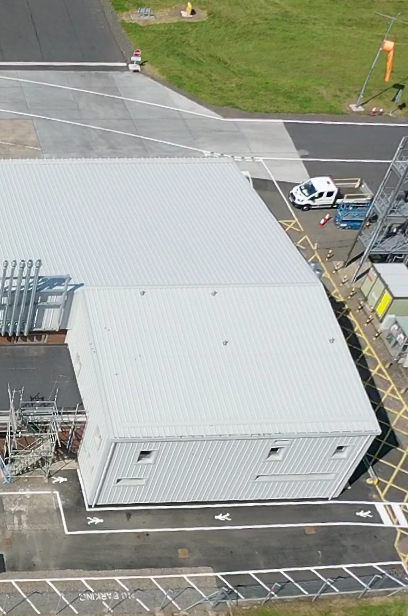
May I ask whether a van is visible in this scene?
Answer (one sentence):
Yes, a van appears in the view.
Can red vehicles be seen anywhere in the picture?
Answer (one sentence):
No, there appears to be no red vehicle in this shot.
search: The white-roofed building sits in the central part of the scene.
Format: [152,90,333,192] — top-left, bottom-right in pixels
[0,158,383,509]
